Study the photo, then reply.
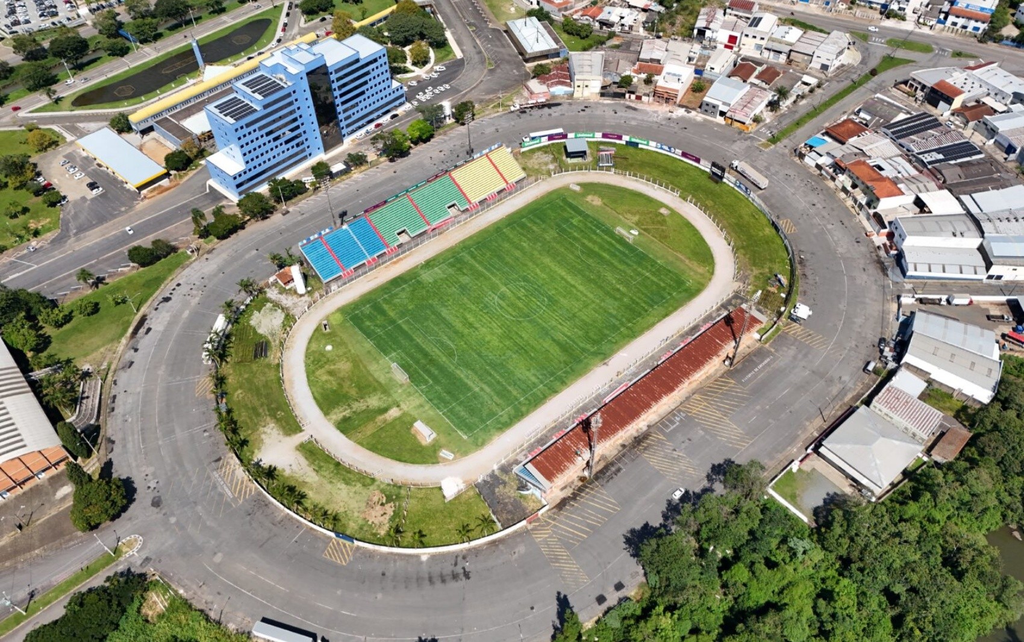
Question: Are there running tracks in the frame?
Yes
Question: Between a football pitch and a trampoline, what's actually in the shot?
football pitch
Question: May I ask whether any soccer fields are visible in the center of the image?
Yes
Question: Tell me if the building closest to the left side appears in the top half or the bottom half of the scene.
bottom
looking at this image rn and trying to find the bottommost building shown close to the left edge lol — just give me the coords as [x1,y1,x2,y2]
[0,338,85,516]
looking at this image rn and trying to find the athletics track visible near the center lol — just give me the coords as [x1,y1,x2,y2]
[283,171,736,486]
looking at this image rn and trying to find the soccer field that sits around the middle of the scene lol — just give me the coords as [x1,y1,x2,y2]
[344,194,692,441]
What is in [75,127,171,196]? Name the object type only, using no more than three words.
shed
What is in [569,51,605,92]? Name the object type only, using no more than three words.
building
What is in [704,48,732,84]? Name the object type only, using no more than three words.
house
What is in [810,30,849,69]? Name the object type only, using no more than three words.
building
